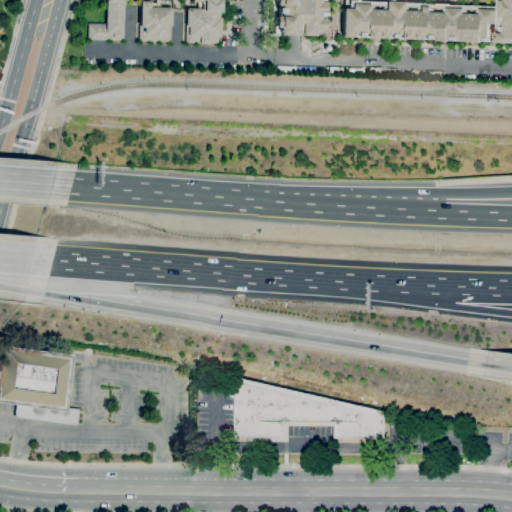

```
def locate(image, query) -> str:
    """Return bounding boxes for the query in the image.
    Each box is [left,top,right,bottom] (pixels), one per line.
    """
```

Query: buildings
[186,0,226,46]
[282,0,332,37]
[88,0,126,42]
[234,378,386,442]
[346,2,499,42]
[140,2,174,43]
[0,348,73,411]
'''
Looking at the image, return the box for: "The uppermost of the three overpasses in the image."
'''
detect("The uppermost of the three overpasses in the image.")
[0,158,76,206]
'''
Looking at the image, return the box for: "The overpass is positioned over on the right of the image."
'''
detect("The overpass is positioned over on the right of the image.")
[468,348,512,385]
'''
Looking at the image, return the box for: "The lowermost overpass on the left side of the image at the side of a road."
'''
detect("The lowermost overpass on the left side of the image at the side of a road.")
[0,234,58,304]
